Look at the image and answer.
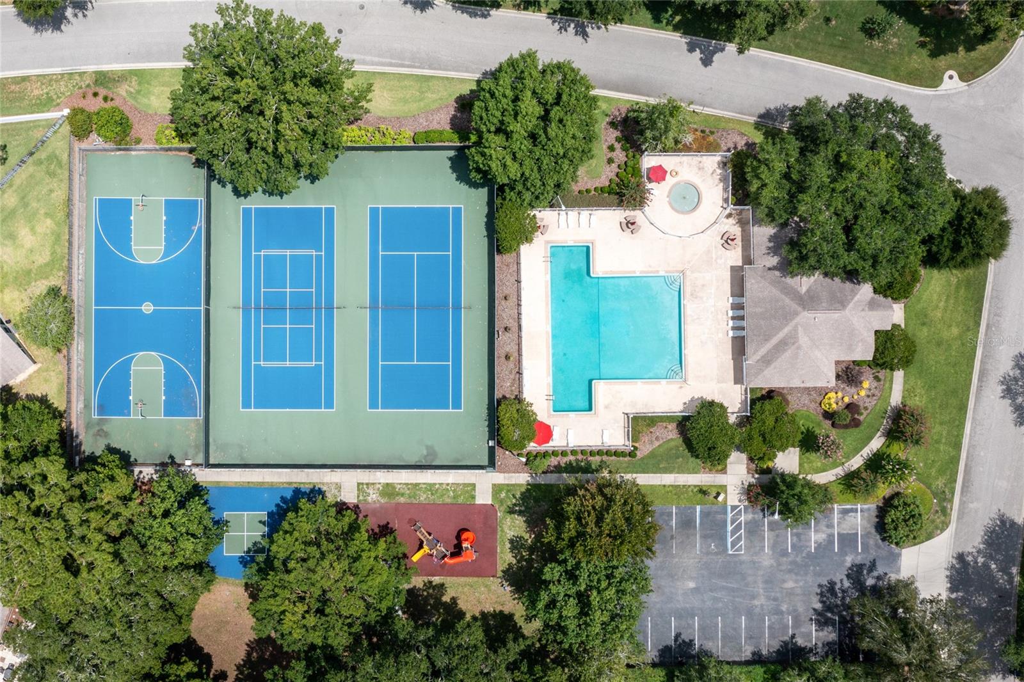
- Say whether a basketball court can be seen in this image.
Yes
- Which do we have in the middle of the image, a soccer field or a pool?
pool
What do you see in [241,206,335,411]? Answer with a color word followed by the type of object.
blue tennis court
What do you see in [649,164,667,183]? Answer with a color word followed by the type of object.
red umbrella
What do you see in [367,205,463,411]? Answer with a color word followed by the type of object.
blue tennis court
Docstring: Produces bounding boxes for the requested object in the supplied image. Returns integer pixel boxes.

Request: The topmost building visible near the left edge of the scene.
[0,314,44,392]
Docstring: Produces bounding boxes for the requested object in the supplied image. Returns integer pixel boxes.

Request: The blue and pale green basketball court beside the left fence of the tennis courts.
[84,151,204,465]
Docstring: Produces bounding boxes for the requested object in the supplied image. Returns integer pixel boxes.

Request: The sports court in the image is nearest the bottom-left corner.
[198,486,325,580]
